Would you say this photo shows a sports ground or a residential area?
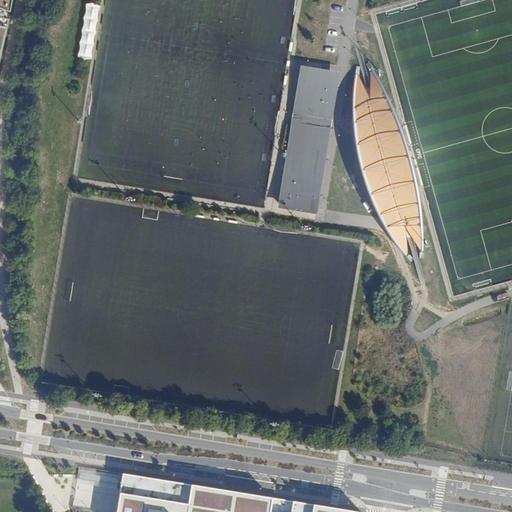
sports ground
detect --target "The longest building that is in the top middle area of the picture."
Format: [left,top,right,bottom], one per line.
[280,66,340,214]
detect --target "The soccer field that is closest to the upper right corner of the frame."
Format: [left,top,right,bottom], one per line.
[376,0,512,296]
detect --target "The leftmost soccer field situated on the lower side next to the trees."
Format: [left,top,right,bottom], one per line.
[42,198,360,428]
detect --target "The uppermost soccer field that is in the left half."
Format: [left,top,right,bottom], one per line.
[78,0,294,208]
